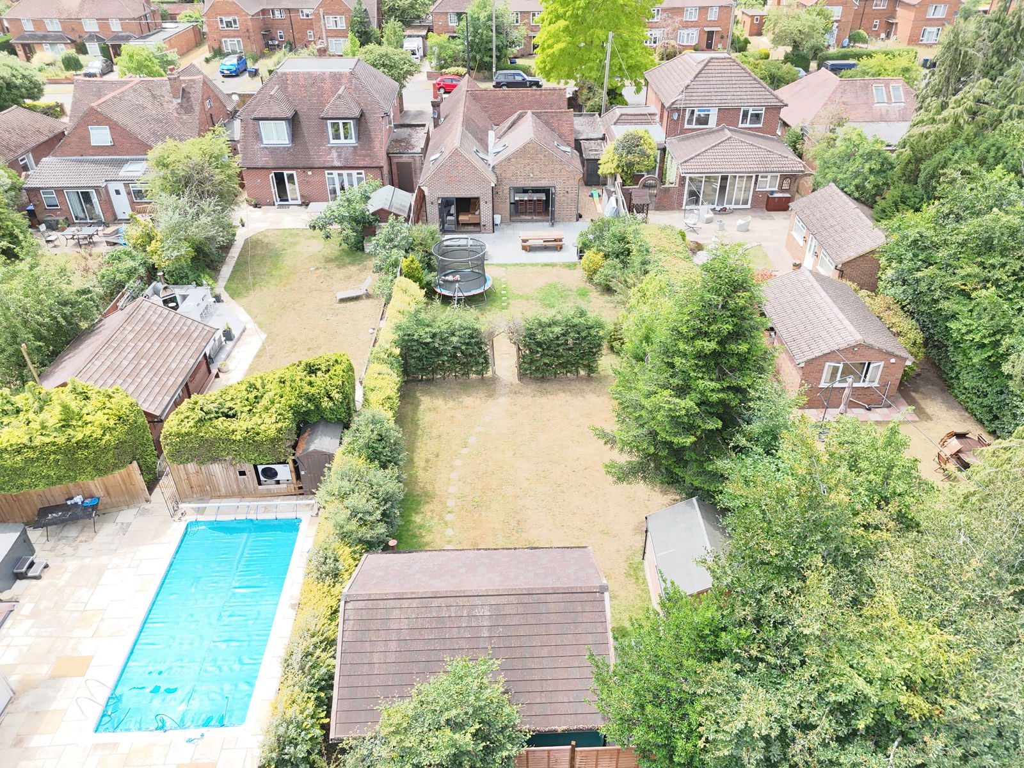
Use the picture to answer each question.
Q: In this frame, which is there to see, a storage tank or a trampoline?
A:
trampoline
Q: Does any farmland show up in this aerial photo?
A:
No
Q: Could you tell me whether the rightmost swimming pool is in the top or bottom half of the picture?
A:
bottom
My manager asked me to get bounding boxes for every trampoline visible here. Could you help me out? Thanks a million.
[434,241,493,311]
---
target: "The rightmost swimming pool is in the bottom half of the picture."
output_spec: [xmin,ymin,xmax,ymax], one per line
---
[75,510,311,740]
